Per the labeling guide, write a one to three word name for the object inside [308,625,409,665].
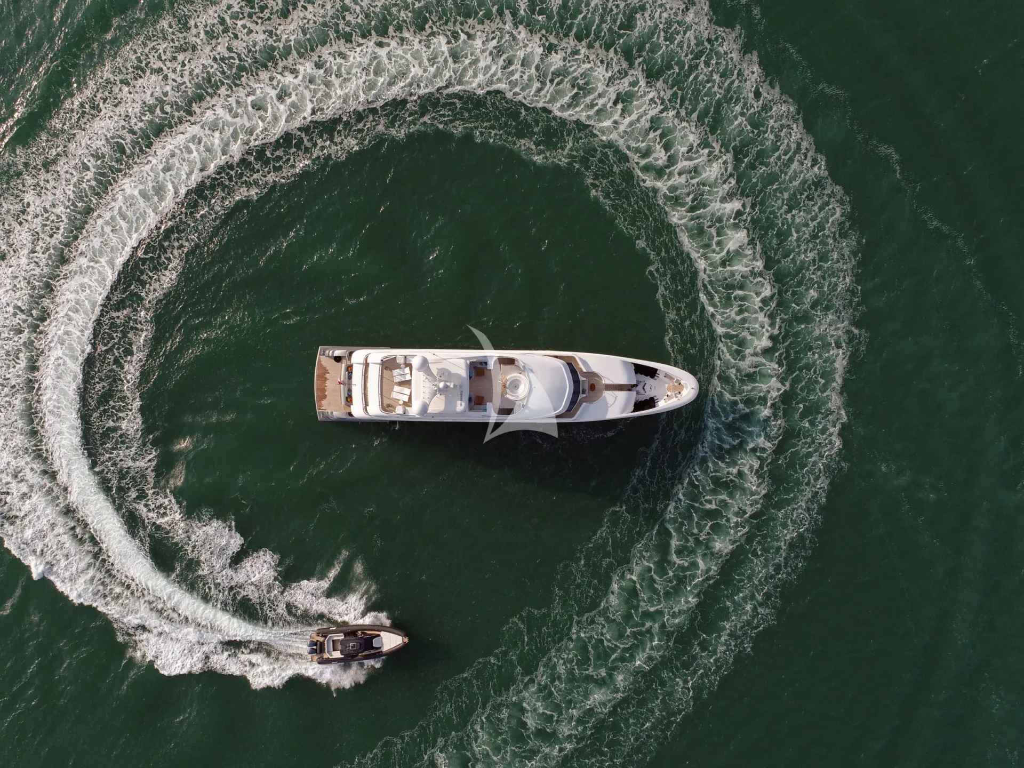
boat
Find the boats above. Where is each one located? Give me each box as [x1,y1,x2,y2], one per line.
[308,625,409,665]
[314,347,699,423]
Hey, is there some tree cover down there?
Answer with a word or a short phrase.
No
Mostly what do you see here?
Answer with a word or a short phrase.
water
